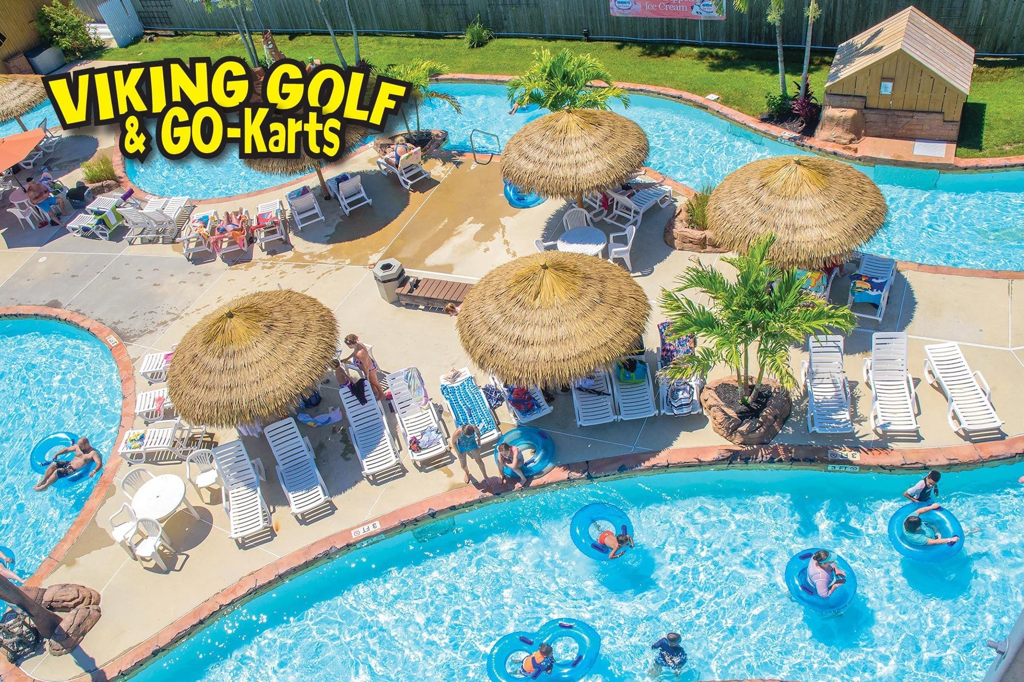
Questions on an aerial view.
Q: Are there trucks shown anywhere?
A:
No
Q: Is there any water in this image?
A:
Yes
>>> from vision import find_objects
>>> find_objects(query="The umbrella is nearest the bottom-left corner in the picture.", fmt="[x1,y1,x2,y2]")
[167,298,348,441]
